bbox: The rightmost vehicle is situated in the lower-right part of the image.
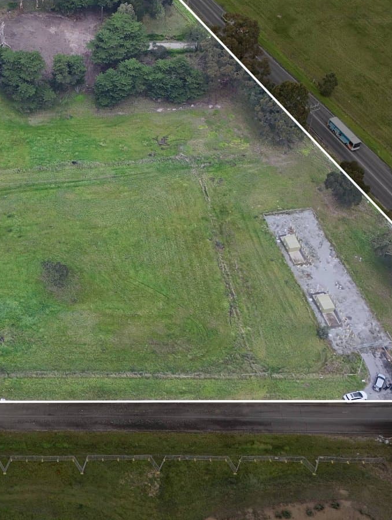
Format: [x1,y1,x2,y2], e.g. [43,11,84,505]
[374,373,387,391]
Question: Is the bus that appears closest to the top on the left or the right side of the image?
right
